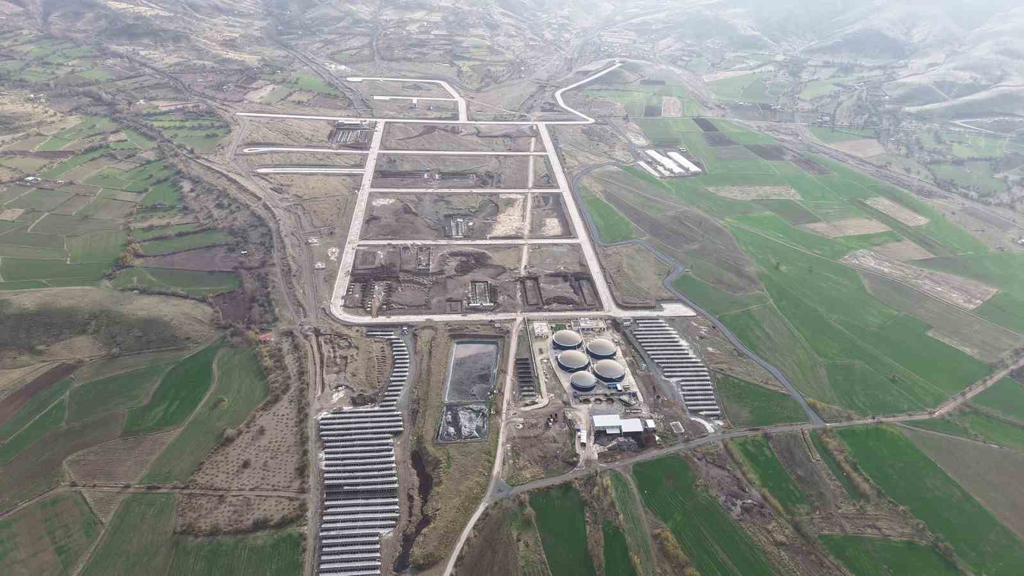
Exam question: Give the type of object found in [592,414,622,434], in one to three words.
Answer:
building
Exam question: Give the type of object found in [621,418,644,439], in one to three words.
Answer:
building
